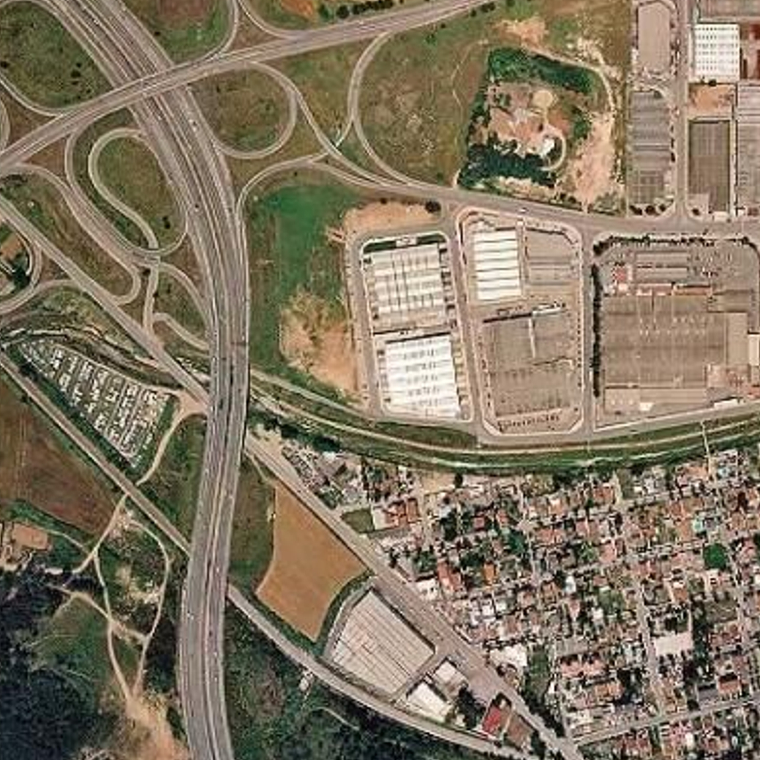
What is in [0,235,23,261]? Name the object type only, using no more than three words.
house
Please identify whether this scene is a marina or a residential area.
residential area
